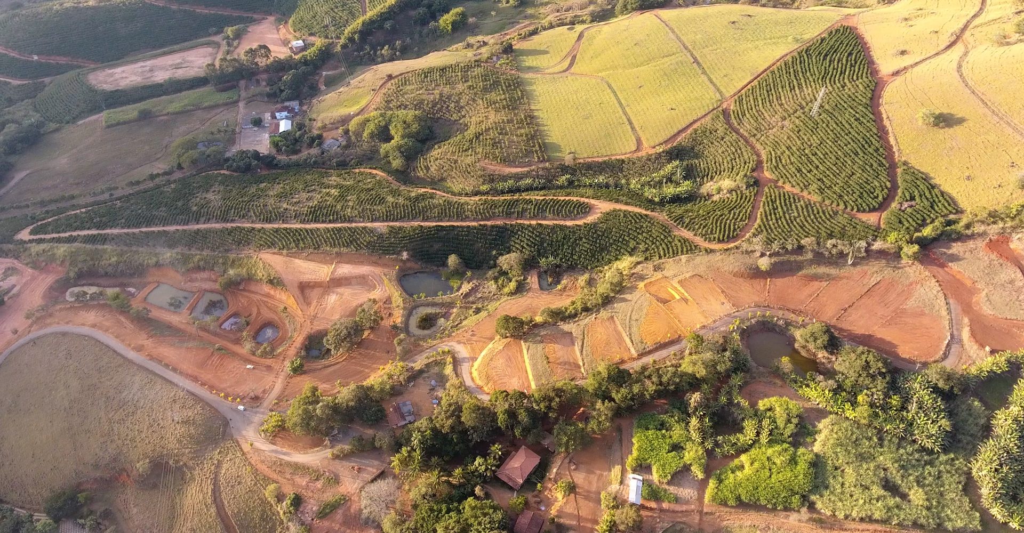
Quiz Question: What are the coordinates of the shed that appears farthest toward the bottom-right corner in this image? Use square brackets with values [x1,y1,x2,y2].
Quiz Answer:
[627,471,643,507]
